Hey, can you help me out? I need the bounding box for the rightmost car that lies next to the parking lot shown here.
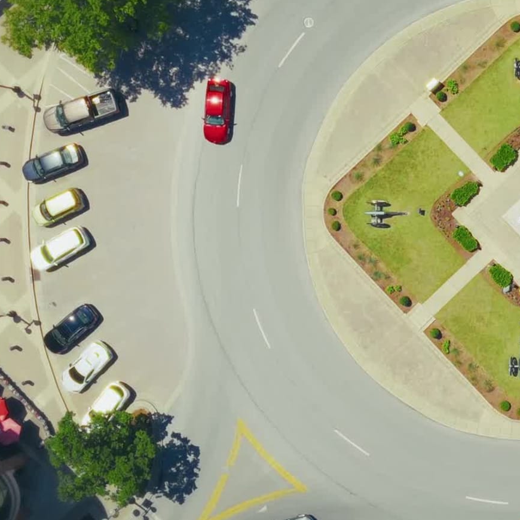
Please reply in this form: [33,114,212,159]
[200,79,234,145]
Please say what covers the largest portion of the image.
paved ground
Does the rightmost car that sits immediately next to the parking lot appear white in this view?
No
